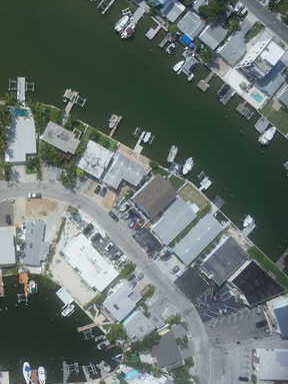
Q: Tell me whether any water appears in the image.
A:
Yes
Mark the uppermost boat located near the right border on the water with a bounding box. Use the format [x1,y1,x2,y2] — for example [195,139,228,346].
[260,128,274,145]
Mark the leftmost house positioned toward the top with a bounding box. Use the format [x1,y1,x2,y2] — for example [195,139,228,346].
[2,117,37,162]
